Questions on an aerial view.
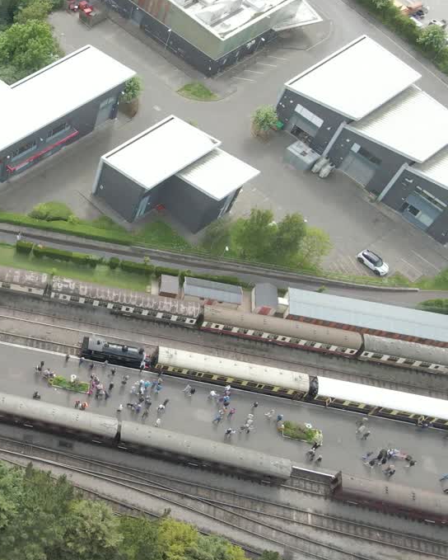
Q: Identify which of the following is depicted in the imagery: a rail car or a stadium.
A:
rail car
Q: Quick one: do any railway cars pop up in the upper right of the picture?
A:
No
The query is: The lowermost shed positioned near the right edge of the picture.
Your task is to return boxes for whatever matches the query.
[280,287,448,347]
